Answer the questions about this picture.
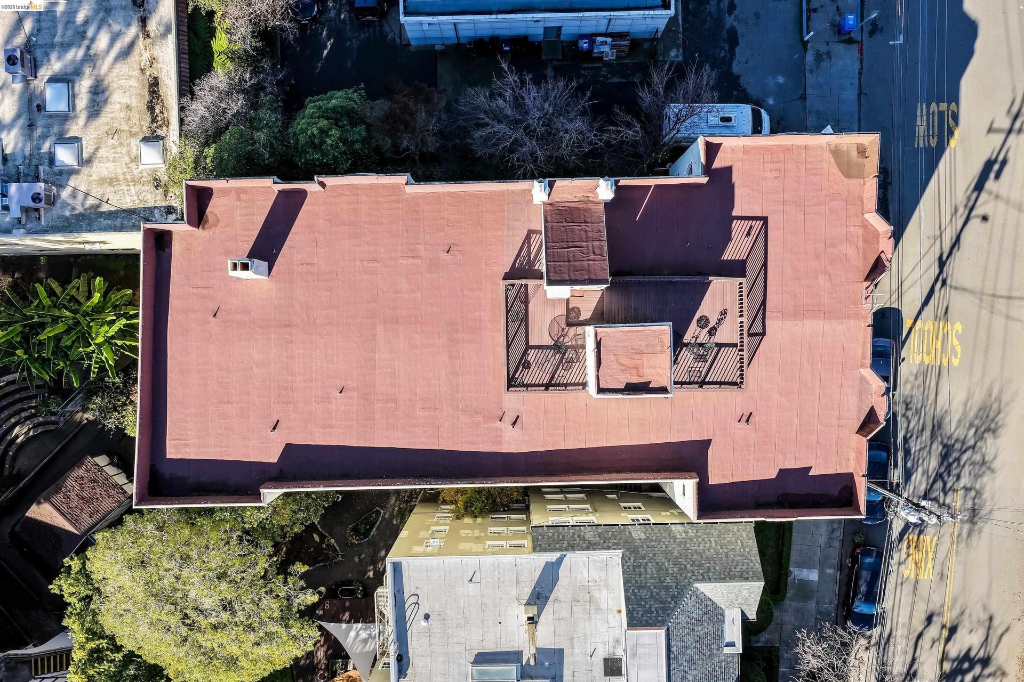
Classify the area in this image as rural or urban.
urban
